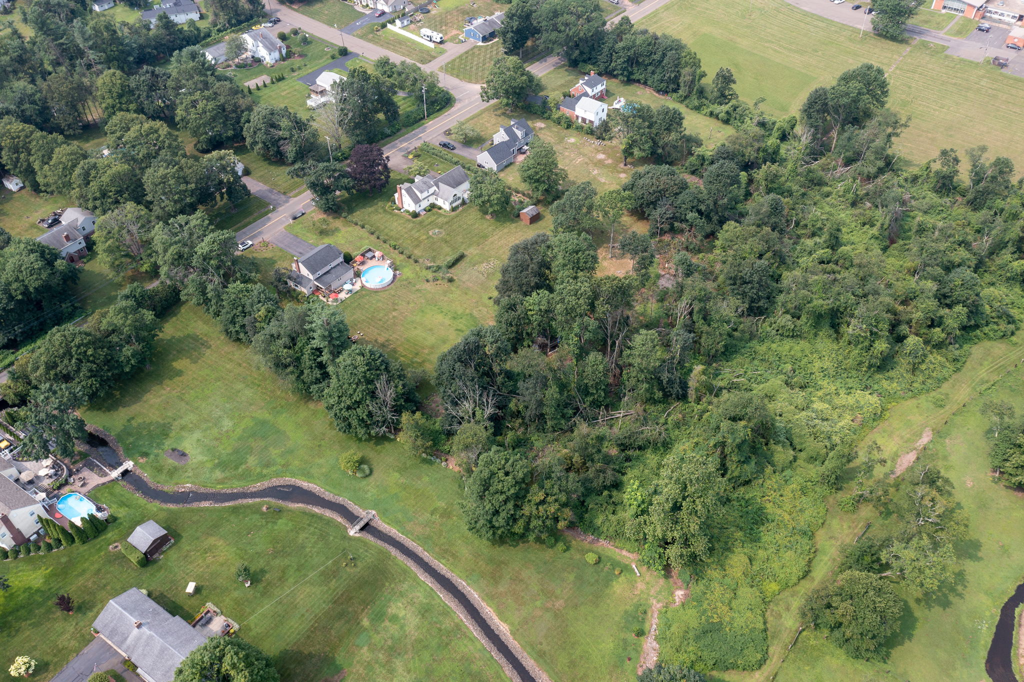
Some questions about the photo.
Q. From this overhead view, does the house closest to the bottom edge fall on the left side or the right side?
left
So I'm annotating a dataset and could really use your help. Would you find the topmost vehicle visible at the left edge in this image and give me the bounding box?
[40,212,63,227]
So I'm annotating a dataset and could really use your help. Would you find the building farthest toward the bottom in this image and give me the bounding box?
[92,588,235,682]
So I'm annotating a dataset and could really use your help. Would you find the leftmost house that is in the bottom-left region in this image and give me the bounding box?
[0,455,50,548]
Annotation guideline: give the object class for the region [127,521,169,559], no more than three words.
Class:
shed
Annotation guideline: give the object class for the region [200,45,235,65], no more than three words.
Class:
building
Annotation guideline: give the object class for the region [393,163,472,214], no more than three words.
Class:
house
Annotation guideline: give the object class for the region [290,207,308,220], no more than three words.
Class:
vehicle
